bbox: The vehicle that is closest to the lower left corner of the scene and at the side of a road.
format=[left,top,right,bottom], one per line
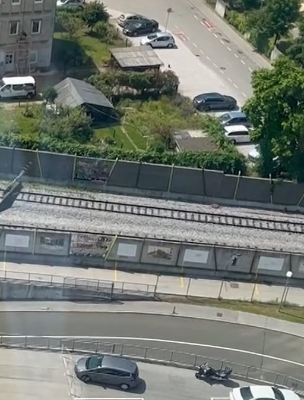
[74,353,142,391]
